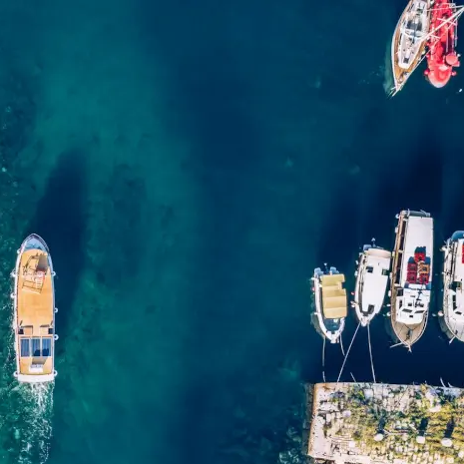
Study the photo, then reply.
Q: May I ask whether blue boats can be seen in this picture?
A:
No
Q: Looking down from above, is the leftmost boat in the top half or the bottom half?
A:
bottom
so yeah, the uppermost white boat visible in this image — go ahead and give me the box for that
[384,0,464,100]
